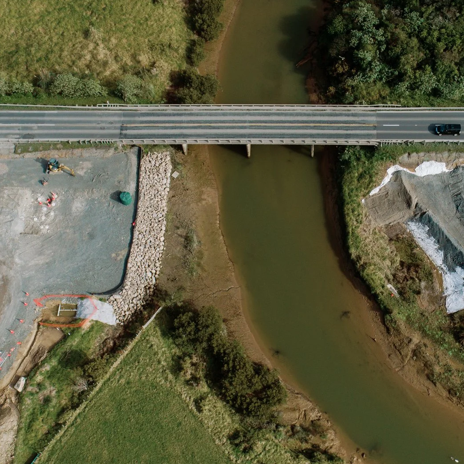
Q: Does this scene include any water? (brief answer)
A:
Yes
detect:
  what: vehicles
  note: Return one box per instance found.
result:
[45,161,70,180]
[437,122,463,135]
